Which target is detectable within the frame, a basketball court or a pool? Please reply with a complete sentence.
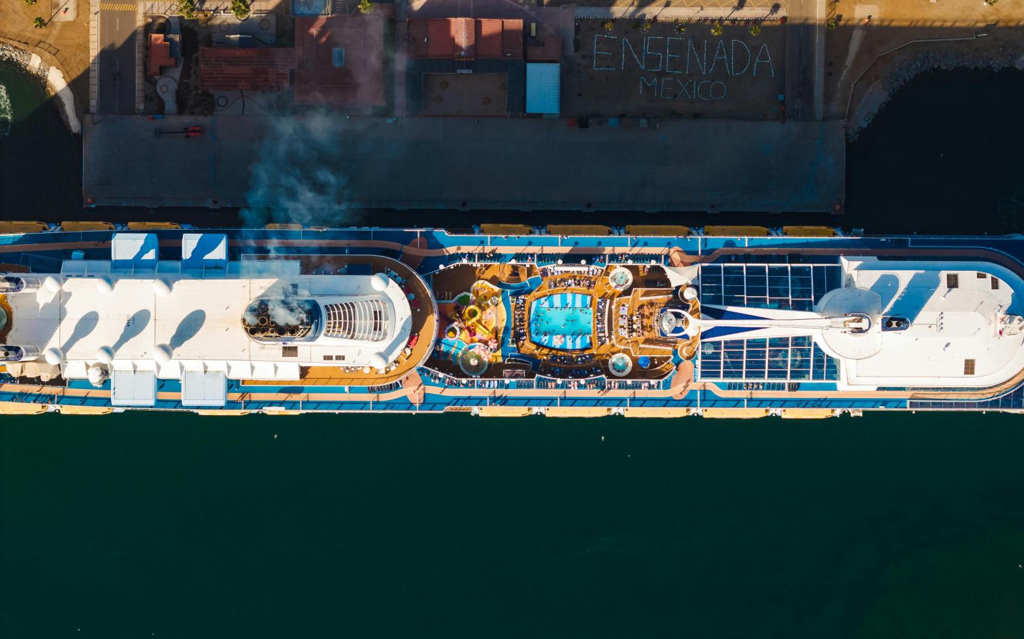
This aerial view contains a pool.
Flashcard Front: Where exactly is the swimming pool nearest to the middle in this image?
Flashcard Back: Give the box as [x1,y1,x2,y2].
[528,290,596,353]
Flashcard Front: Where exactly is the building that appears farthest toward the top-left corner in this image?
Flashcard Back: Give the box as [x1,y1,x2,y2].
[148,34,181,78]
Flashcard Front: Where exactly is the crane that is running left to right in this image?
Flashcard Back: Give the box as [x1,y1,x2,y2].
[657,308,871,338]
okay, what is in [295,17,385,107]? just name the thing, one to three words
building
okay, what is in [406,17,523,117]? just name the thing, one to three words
building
